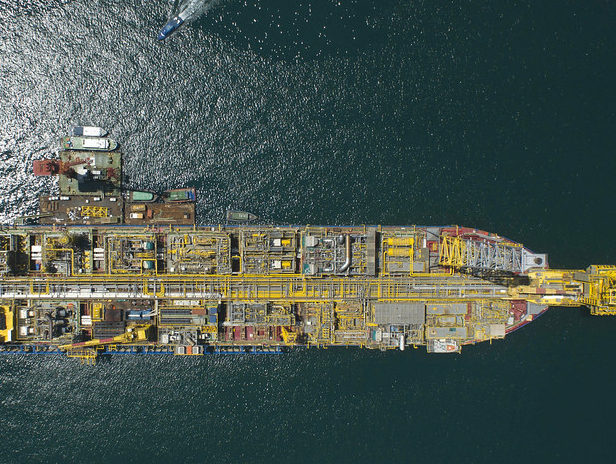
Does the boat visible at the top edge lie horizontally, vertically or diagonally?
diagonally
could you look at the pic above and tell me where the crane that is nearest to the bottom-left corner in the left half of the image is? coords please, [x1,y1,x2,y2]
[58,323,148,348]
